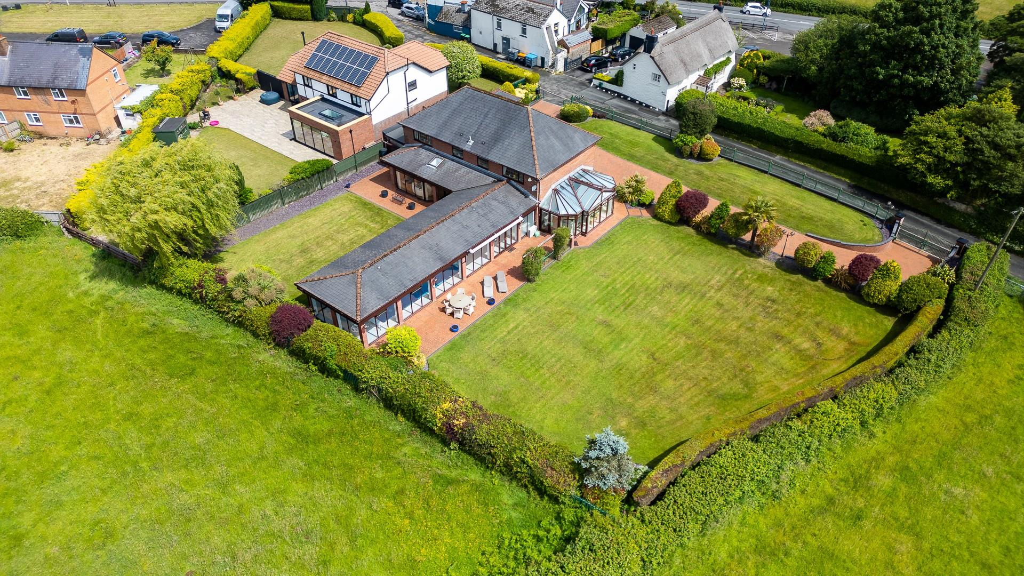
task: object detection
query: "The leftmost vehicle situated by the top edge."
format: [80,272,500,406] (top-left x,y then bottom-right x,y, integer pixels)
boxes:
[41,24,86,42]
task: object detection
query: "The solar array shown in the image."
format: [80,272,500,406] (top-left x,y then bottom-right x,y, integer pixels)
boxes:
[301,42,380,87]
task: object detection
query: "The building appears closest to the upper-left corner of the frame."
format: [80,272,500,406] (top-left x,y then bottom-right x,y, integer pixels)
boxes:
[0,26,132,138]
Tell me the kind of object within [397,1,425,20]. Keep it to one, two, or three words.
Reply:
car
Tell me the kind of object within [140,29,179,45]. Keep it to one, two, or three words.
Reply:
car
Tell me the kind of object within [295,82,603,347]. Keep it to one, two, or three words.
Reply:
house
